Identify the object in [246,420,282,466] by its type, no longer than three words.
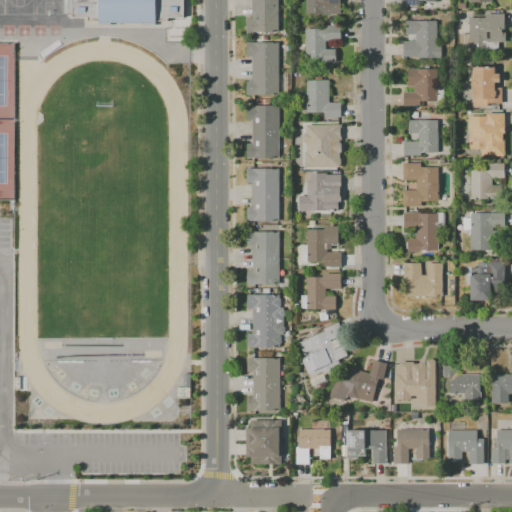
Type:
building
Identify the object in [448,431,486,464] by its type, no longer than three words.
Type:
house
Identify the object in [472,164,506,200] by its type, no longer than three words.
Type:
house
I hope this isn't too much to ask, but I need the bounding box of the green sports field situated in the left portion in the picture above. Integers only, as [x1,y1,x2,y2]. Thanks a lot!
[38,62,168,337]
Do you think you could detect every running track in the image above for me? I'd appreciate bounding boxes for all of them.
[19,40,188,424]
